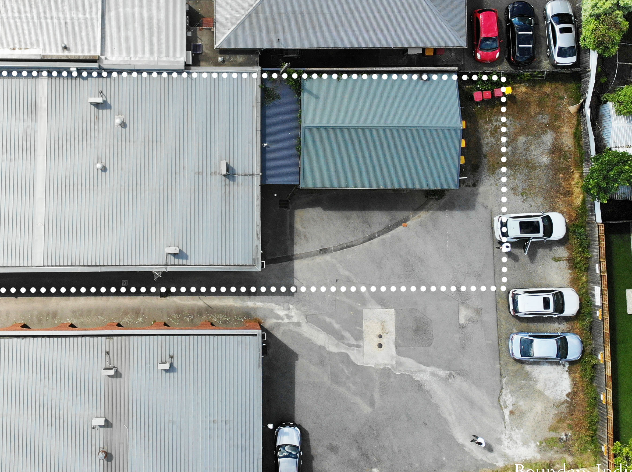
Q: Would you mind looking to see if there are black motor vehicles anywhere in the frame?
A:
Yes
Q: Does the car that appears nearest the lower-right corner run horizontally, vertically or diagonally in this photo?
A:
horizontally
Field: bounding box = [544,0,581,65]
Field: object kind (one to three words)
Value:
car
